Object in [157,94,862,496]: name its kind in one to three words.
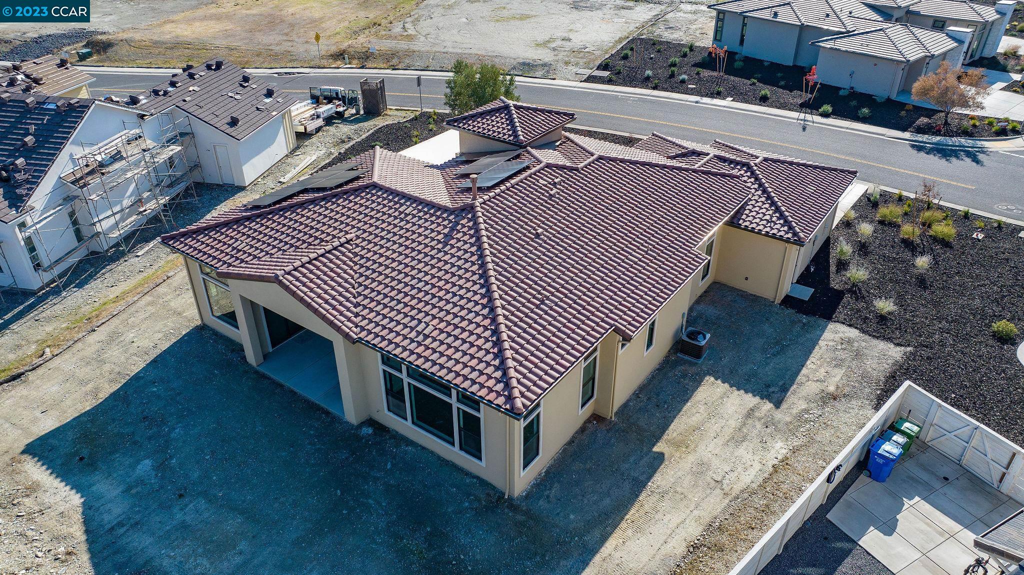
house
